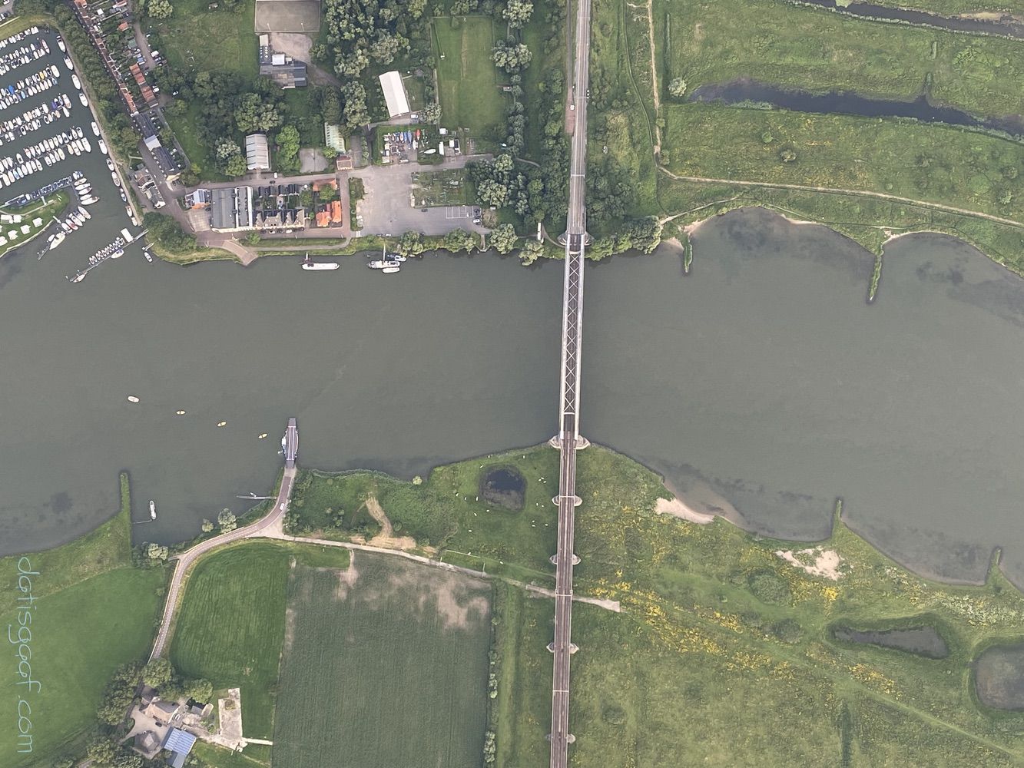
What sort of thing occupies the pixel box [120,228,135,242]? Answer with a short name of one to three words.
boat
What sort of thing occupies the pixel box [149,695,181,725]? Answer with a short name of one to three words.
house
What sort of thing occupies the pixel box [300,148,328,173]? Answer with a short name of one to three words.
basketball court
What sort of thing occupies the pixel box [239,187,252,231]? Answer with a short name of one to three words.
building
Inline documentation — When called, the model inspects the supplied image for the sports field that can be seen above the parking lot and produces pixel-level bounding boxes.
[435,17,505,132]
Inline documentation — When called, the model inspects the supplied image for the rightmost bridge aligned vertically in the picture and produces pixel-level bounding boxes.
[544,232,593,768]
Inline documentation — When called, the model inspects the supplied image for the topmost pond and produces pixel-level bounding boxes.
[481,466,525,510]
